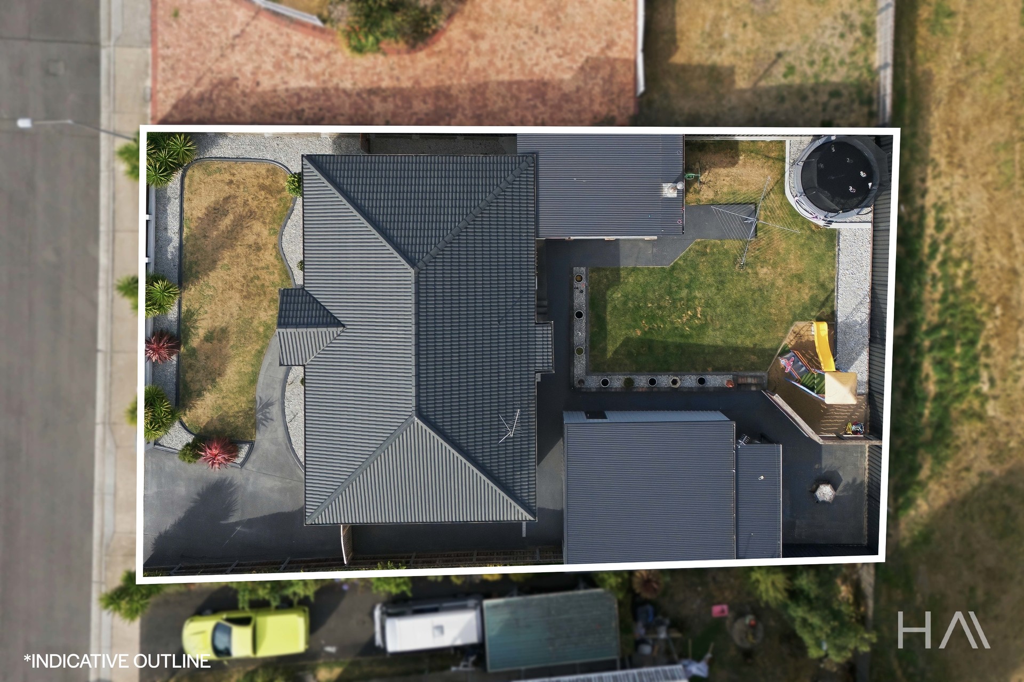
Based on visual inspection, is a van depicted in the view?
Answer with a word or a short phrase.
Yes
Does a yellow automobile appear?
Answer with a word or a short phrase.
Yes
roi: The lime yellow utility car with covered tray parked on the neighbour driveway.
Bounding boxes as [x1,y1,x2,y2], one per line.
[184,600,310,665]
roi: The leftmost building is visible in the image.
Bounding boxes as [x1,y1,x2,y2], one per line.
[273,152,555,536]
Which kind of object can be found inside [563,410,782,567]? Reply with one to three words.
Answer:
building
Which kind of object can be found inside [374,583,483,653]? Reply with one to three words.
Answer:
van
